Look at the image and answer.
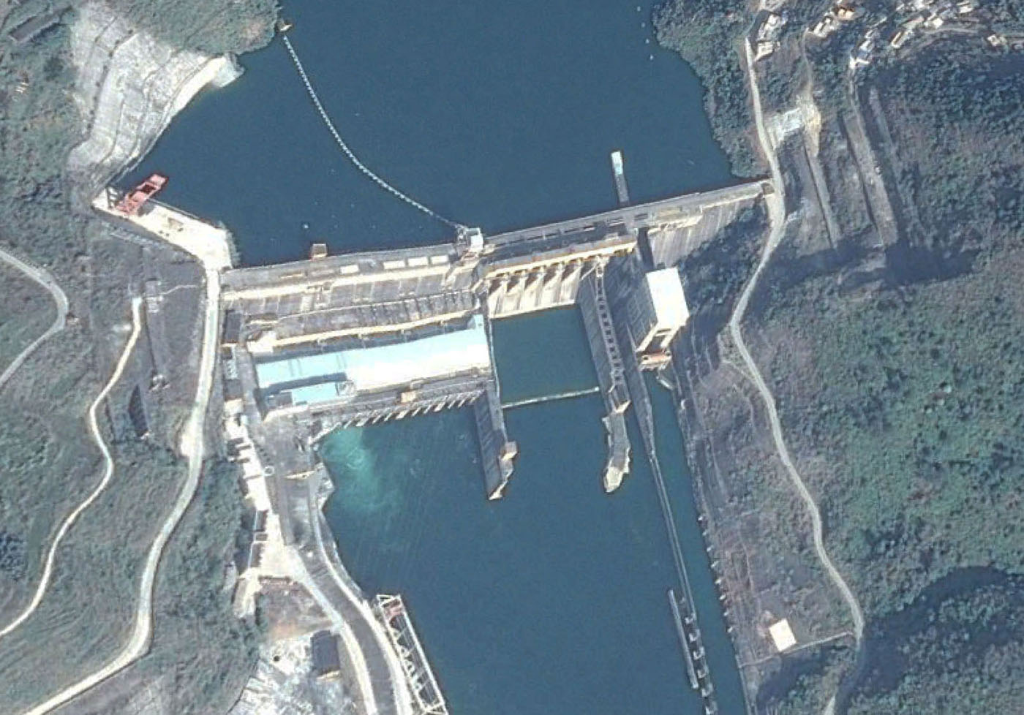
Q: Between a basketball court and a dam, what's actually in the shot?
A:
dam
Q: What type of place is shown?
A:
port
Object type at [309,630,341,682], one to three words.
building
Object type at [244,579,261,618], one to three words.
building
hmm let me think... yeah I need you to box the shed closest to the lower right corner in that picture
[767,620,796,654]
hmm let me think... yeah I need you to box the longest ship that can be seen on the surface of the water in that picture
[668,590,698,688]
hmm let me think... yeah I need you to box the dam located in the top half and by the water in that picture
[221,180,774,339]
